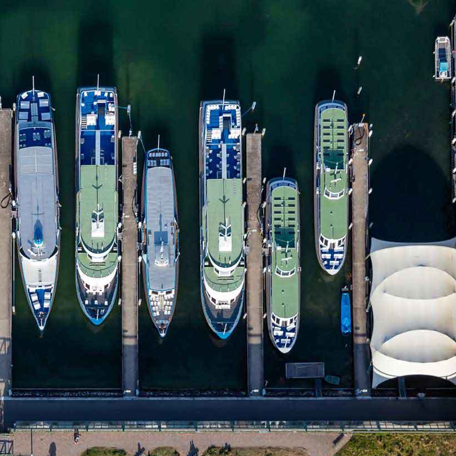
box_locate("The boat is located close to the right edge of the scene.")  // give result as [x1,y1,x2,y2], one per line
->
[433,37,452,84]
